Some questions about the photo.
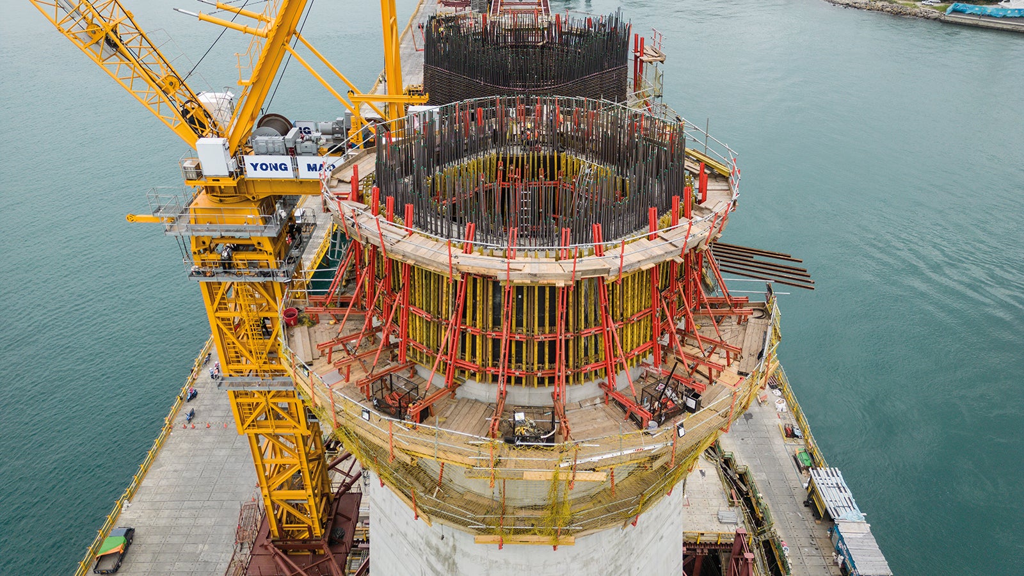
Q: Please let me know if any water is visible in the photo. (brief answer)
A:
Yes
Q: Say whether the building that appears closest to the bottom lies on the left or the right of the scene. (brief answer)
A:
right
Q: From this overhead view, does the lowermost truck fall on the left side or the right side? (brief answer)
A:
left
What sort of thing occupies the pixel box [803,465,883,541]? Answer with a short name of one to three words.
shed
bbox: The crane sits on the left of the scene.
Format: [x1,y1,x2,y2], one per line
[26,0,430,538]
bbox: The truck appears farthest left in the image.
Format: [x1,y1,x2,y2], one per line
[91,521,140,569]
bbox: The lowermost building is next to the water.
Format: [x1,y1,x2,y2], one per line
[822,522,905,576]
